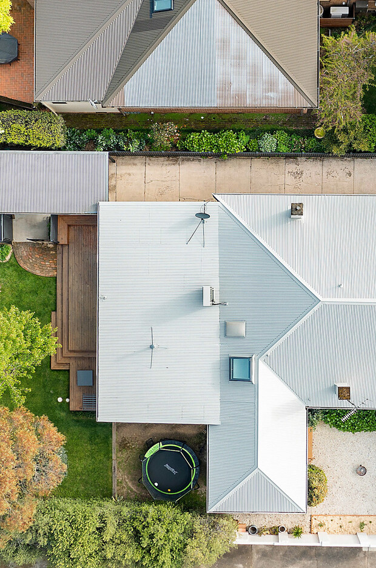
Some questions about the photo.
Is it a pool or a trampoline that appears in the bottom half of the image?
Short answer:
trampoline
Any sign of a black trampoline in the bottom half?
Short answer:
Yes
